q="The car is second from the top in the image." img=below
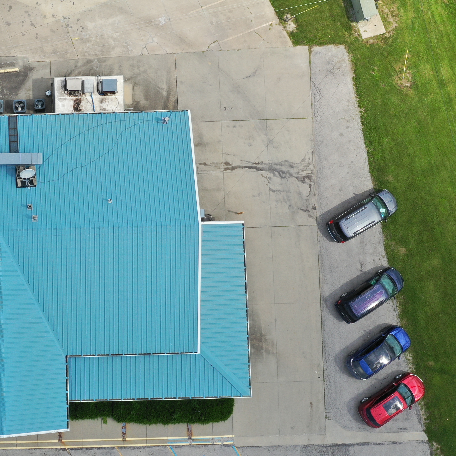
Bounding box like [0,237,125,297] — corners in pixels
[334,269,405,325]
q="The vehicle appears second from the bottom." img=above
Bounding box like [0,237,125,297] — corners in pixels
[345,326,411,382]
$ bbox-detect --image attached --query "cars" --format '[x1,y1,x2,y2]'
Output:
[356,376,424,431]
[326,191,397,245]
[334,269,405,325]
[345,326,411,382]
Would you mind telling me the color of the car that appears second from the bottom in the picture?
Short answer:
blue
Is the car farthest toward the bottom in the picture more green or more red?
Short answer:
red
